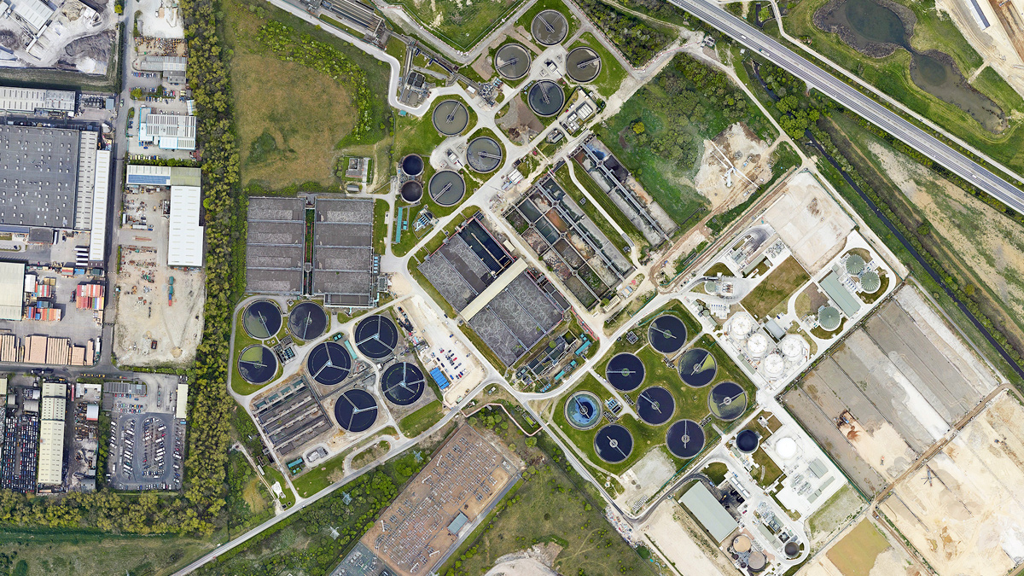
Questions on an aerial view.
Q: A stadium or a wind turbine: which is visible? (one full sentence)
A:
The one in the frame is a wind turbine.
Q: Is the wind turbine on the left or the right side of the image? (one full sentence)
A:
The wind turbine is on the right side of the image.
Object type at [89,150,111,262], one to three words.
building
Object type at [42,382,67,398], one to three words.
building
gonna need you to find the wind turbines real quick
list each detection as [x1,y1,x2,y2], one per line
[718,144,758,189]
